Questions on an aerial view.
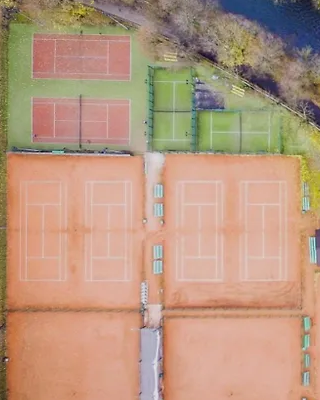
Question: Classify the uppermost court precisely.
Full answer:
What you see as the uppermost court is a tennis court.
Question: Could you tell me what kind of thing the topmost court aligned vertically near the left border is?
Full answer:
Looking closely, the topmost court aligned vertically near the left border is a tennis court.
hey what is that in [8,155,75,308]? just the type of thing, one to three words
tennis court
